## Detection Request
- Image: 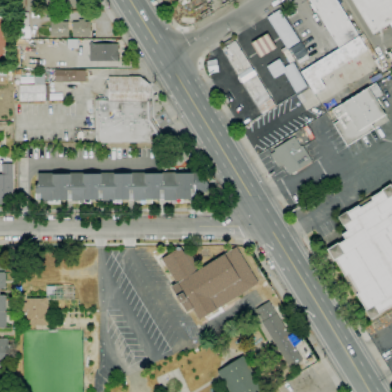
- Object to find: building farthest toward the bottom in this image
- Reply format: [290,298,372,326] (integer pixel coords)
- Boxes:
[219,355,258,392]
